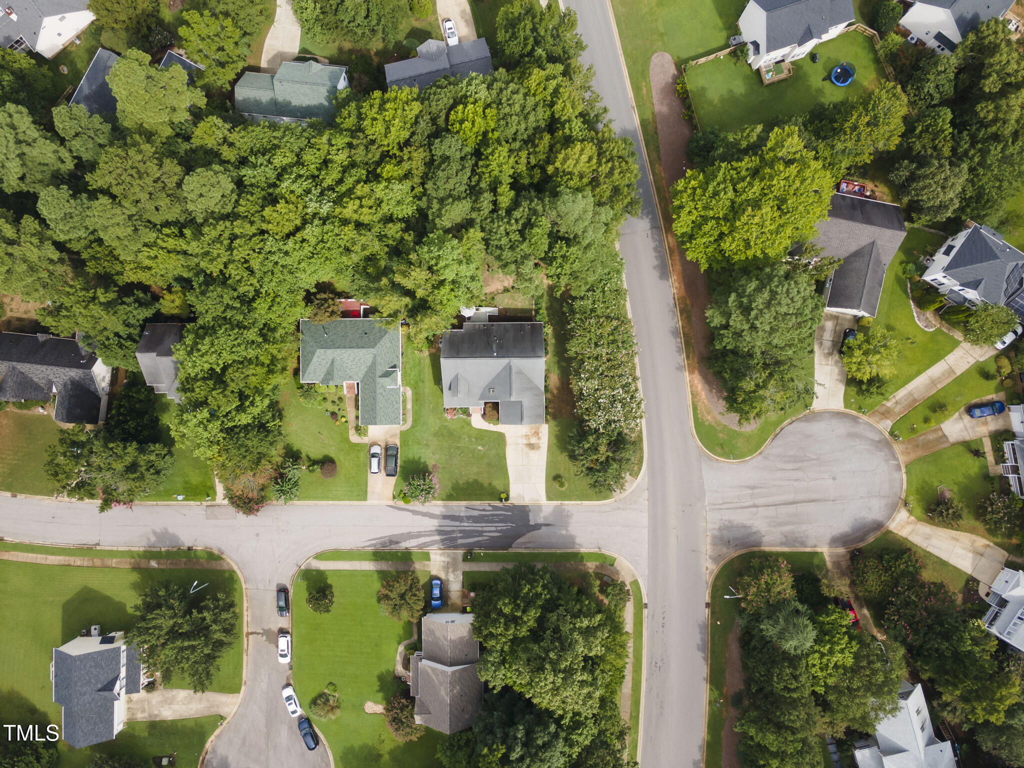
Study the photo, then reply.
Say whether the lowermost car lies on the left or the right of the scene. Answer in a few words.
left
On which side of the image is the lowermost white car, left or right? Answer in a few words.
left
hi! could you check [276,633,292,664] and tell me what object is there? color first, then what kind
white car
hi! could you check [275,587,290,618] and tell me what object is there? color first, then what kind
gray car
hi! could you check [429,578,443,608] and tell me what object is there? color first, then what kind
blue car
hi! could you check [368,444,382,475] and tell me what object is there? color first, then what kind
white car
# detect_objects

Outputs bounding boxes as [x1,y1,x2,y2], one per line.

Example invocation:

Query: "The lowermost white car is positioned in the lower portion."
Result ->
[282,685,302,718]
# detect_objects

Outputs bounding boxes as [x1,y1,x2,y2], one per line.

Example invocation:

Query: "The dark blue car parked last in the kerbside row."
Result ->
[297,717,319,750]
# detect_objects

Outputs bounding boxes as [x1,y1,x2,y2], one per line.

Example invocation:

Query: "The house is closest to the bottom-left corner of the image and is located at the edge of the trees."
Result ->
[51,627,151,749]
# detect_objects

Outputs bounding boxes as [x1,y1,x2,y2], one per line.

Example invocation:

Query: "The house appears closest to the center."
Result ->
[440,322,545,425]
